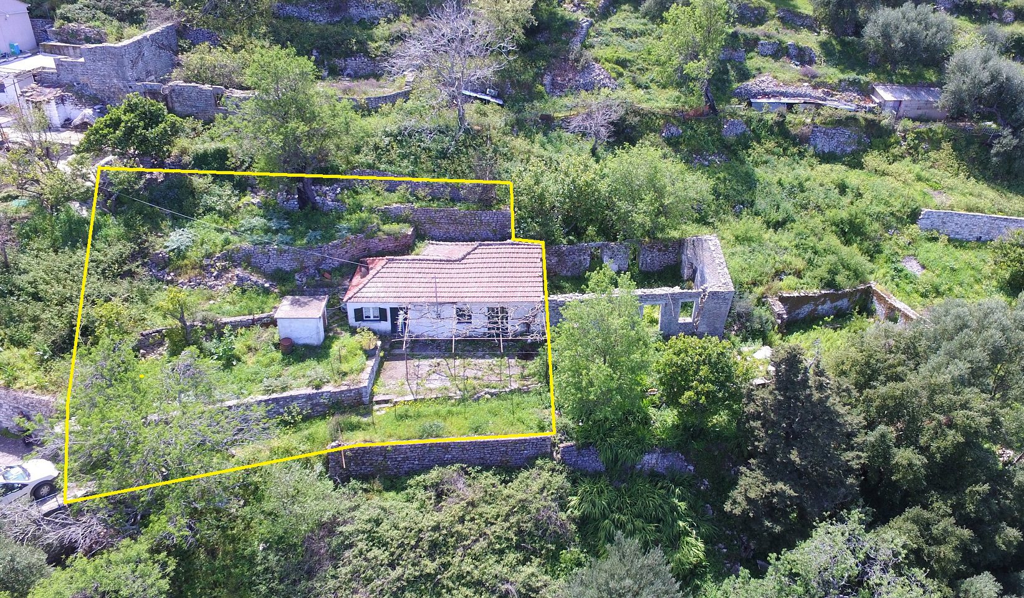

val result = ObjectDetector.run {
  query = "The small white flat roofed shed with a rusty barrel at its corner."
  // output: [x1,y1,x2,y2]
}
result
[271,290,334,344]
